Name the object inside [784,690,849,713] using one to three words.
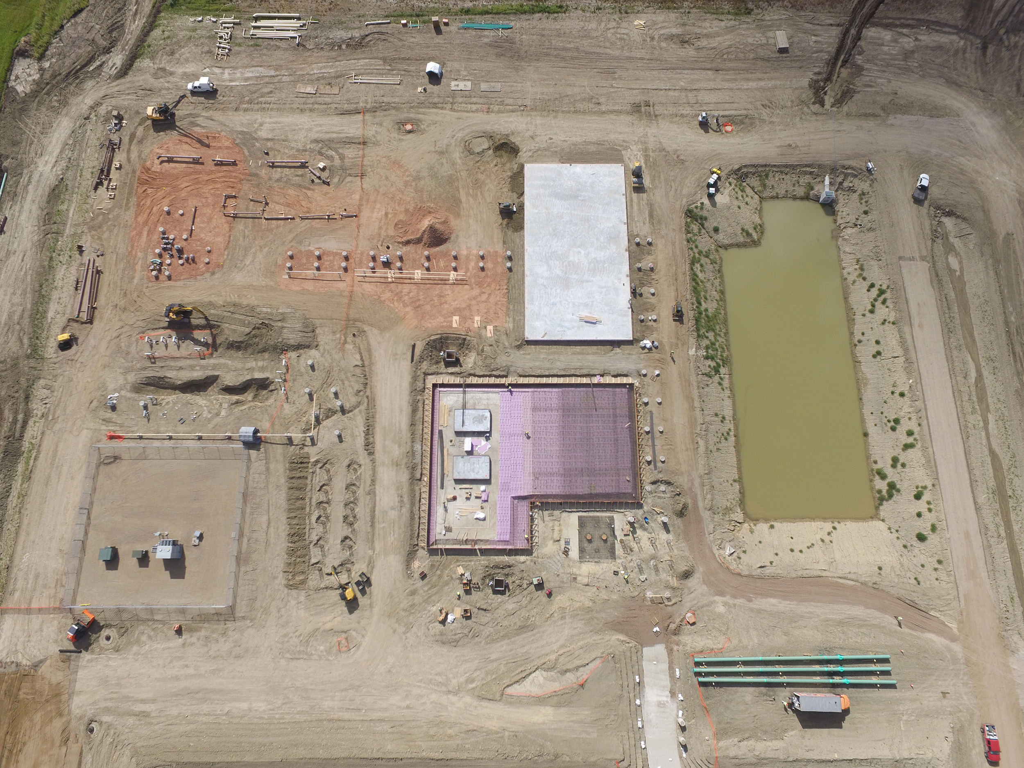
truck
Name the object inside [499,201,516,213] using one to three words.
vehicle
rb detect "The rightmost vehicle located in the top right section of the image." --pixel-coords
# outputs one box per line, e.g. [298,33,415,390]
[911,173,930,201]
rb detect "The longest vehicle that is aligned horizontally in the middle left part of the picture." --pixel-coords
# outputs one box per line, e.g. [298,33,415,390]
[160,301,219,323]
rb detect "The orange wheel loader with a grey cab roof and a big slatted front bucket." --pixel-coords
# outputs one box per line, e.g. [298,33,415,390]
[64,605,99,645]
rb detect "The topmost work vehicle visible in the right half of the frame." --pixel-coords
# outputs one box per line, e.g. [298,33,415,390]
[695,111,721,126]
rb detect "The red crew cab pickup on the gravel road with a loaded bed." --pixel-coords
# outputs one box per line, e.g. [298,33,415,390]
[978,719,1002,763]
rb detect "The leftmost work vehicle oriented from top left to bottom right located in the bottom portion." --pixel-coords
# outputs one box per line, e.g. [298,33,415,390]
[327,565,358,606]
